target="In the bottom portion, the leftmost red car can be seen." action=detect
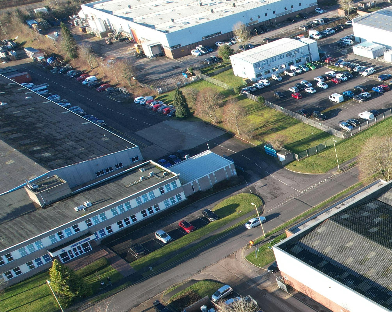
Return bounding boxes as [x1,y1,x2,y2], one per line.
[178,220,195,233]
